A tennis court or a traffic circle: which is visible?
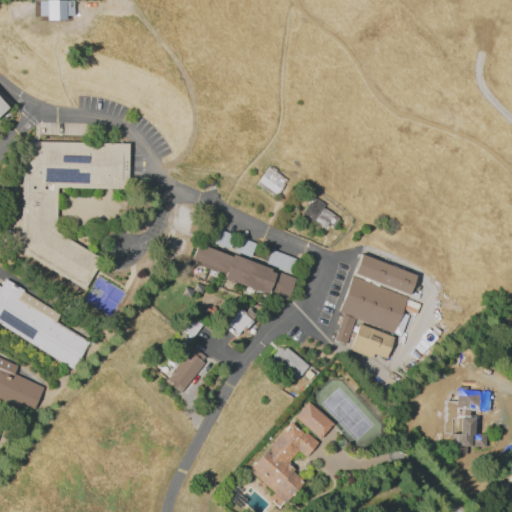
tennis court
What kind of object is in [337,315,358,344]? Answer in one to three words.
building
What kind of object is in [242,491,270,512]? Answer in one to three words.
swimming pool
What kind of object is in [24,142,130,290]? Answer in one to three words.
building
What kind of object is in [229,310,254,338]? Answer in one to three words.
house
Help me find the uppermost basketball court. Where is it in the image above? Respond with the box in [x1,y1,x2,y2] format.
[84,276,126,312]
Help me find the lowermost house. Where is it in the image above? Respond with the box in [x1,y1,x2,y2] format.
[254,426,320,507]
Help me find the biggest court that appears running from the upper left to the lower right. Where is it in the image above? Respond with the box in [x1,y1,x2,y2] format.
[317,380,381,446]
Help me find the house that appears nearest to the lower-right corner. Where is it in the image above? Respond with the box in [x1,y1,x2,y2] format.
[454,388,492,456]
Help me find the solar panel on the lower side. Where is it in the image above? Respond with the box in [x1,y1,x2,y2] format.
[0,311,36,338]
